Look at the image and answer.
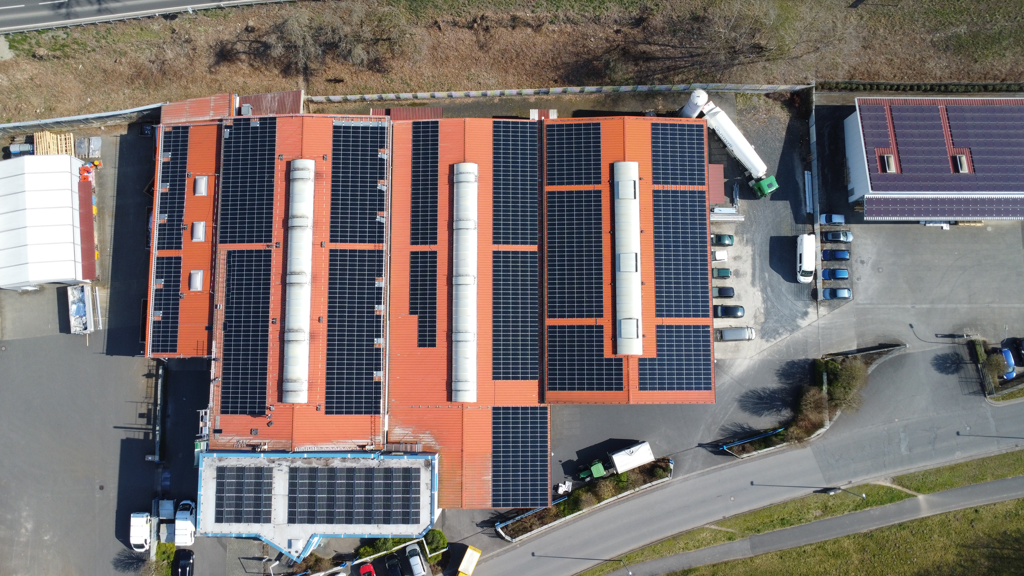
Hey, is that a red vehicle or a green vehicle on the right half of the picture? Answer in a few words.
green vehicle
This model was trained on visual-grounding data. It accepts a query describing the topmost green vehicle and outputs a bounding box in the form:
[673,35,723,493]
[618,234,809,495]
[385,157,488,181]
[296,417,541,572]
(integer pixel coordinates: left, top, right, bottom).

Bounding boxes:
[742,171,778,199]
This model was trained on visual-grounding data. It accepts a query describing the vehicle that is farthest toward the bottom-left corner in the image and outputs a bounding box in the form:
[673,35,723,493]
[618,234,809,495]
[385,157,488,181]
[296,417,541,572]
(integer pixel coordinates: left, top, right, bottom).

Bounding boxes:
[130,509,152,552]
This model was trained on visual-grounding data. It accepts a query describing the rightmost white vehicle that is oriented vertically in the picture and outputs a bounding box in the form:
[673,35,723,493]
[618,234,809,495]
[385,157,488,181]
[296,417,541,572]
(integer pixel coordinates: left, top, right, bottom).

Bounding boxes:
[796,235,816,283]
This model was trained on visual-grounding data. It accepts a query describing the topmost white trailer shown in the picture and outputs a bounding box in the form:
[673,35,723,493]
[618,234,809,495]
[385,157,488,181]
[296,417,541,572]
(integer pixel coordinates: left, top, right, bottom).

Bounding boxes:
[700,97,768,182]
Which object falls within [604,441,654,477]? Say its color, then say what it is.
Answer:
white trailer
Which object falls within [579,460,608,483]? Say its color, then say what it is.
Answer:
green work vehicle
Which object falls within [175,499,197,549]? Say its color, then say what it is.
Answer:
white vehicle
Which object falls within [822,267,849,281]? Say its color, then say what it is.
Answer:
blue car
